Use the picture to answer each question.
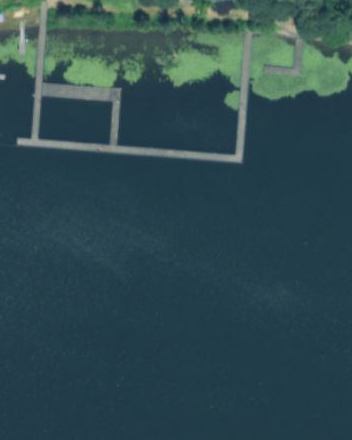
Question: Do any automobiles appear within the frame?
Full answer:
No, no automobile is visible in the scene.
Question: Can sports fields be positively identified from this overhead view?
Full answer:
No, there appears to be no sports field in this shot.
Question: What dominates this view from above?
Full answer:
The largest share of the image is taken up by water.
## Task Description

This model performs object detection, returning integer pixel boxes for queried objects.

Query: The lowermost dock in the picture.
[16,138,242,162]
